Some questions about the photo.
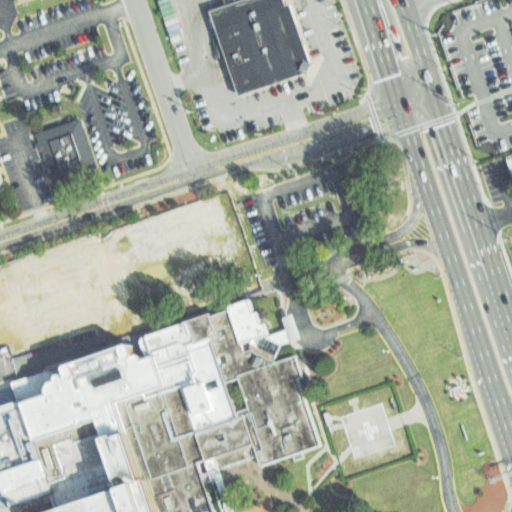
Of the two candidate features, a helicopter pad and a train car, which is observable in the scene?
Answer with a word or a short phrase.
helicopter pad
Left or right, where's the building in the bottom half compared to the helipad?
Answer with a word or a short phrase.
left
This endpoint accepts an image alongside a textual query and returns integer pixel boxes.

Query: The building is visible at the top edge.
[209,0,310,100]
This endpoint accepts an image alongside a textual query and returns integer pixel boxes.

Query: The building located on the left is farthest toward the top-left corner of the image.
[38,120,100,185]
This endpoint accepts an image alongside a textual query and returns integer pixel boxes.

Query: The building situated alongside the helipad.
[0,298,320,512]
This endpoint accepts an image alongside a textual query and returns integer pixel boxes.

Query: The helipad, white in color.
[342,403,395,459]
